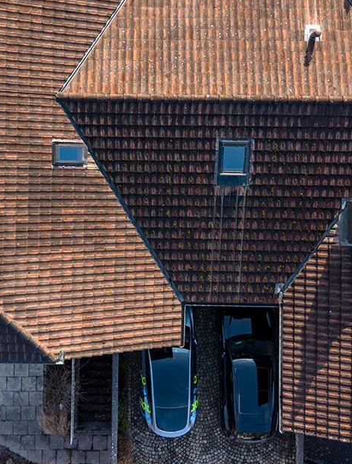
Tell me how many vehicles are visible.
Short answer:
2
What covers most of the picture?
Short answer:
buildings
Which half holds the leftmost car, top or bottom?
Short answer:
bottom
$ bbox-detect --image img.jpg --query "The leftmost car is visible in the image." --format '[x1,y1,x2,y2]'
[143,313,206,436]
